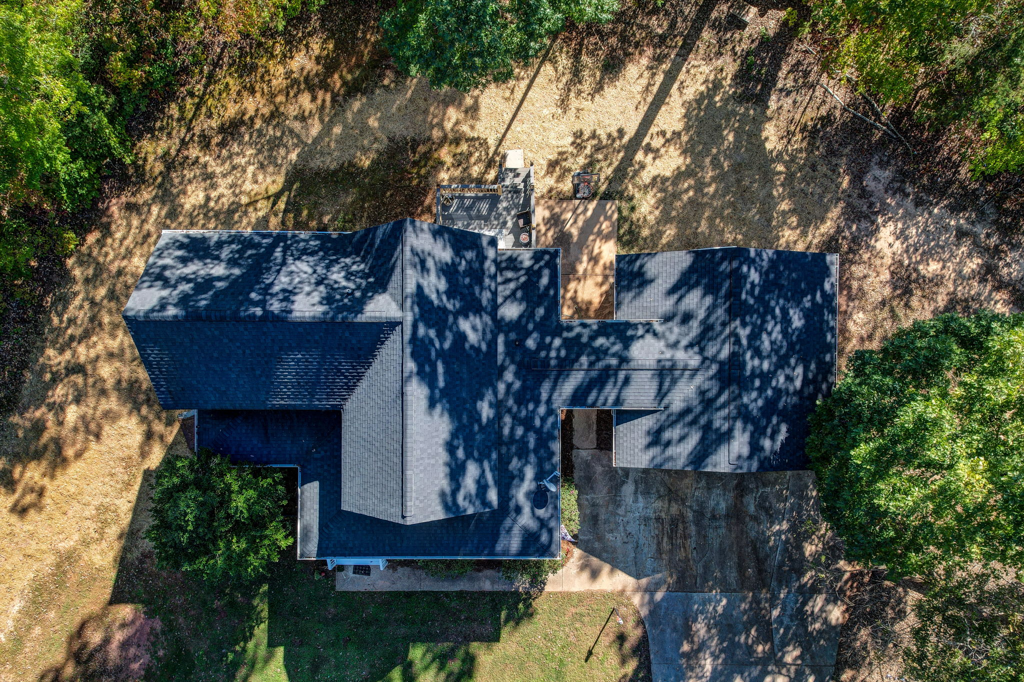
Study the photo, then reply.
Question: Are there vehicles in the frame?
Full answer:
No, the picture doesn't show any vehicle.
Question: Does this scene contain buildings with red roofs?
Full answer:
No, there is no building with a red roof in the image.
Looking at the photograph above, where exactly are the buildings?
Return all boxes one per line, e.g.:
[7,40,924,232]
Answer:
[125,219,837,570]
